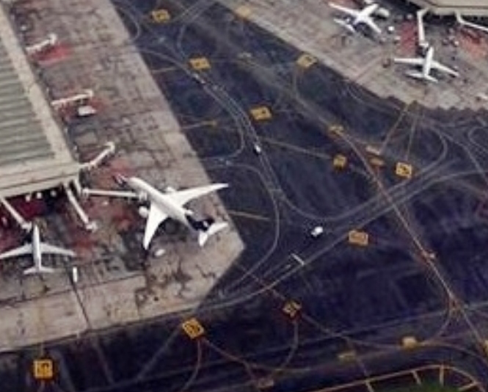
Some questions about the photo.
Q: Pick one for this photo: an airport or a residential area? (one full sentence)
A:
It's an airport.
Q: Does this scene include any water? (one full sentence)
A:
No, the picture contains no water.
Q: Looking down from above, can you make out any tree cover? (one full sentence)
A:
No, the picture contains no tree cover.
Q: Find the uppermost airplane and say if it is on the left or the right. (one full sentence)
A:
You can find the uppermost airplane on the right side of the picture.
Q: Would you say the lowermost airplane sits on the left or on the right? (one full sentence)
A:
The lowermost airplane sits on the left side.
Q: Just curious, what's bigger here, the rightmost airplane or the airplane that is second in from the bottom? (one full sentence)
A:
The rightmost airplane is smaller than the airplane that is second in from the bottom.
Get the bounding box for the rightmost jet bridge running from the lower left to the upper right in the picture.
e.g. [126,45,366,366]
[77,143,117,175]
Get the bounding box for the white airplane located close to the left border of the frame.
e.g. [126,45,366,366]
[3,225,70,273]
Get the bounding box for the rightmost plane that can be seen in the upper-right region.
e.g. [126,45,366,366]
[397,47,455,84]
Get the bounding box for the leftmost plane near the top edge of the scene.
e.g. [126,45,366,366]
[331,3,380,33]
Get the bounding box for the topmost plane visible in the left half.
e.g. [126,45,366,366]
[128,175,237,244]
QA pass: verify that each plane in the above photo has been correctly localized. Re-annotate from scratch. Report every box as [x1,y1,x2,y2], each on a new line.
[331,3,380,33]
[3,225,70,273]
[128,175,237,244]
[397,47,455,84]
